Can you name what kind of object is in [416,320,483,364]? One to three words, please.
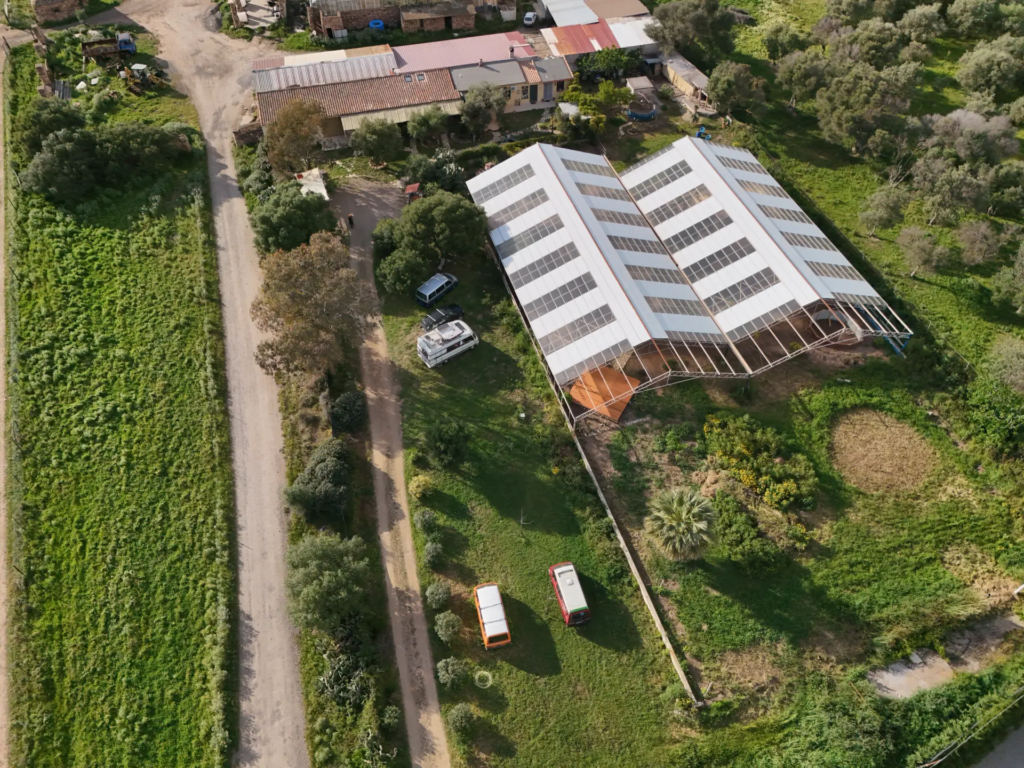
camper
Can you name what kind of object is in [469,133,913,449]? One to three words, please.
shed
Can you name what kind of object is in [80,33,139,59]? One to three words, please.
truck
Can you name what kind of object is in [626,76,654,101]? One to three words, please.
shed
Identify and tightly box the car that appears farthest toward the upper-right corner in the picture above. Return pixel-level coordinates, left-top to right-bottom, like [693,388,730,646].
[524,10,536,26]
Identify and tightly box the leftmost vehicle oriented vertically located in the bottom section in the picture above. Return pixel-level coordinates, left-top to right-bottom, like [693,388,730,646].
[470,584,509,651]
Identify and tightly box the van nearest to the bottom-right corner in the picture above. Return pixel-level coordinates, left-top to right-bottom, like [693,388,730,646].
[549,562,589,627]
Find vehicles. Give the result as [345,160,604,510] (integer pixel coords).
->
[470,584,509,651]
[418,274,461,310]
[524,10,536,26]
[122,60,171,88]
[419,304,468,333]
[416,320,483,364]
[549,562,589,627]
[80,33,139,59]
